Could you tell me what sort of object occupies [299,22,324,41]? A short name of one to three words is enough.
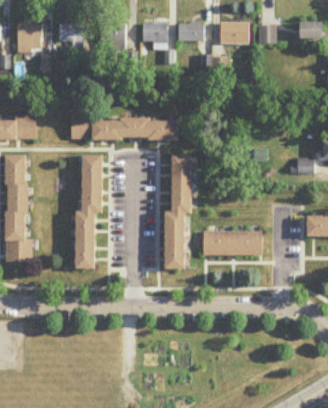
house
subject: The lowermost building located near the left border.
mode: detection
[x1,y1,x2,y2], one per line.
[5,155,39,262]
